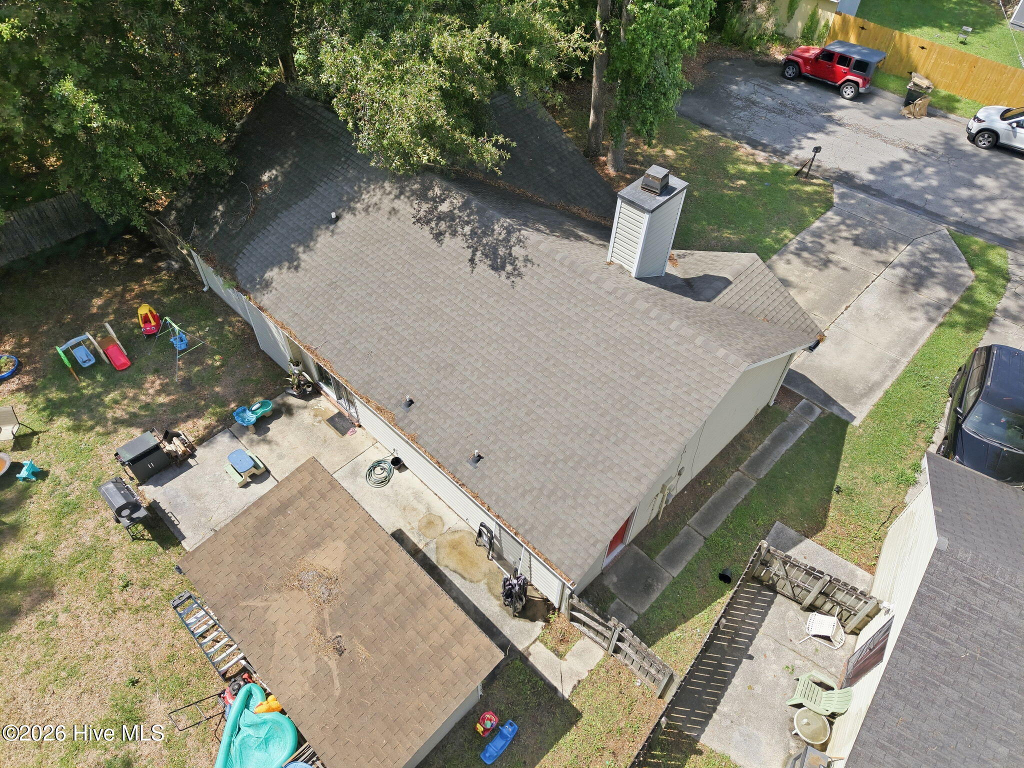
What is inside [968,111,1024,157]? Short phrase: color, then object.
white car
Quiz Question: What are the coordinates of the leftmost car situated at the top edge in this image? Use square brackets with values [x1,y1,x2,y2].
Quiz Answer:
[784,35,891,98]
